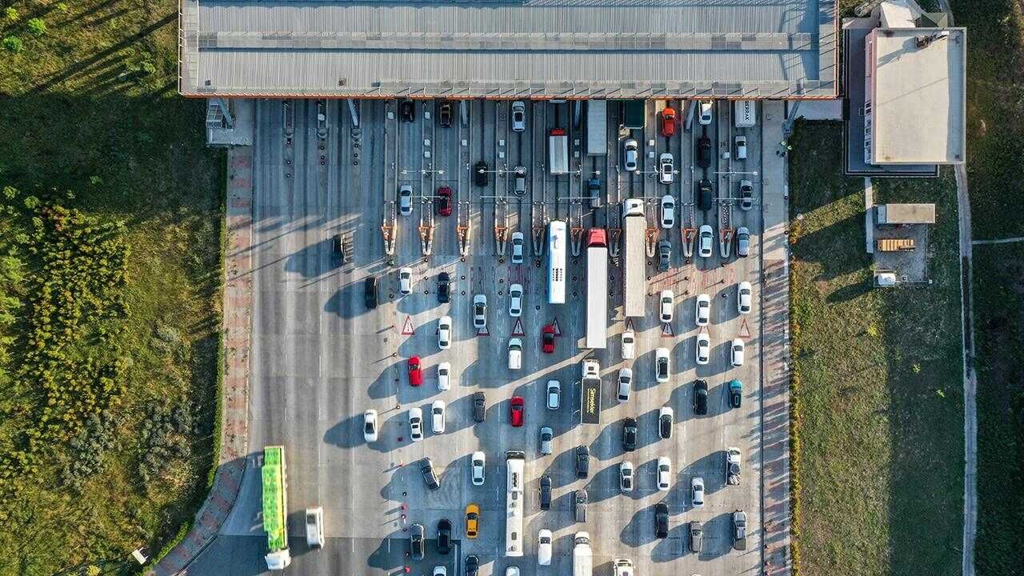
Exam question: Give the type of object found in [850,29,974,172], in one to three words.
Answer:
building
